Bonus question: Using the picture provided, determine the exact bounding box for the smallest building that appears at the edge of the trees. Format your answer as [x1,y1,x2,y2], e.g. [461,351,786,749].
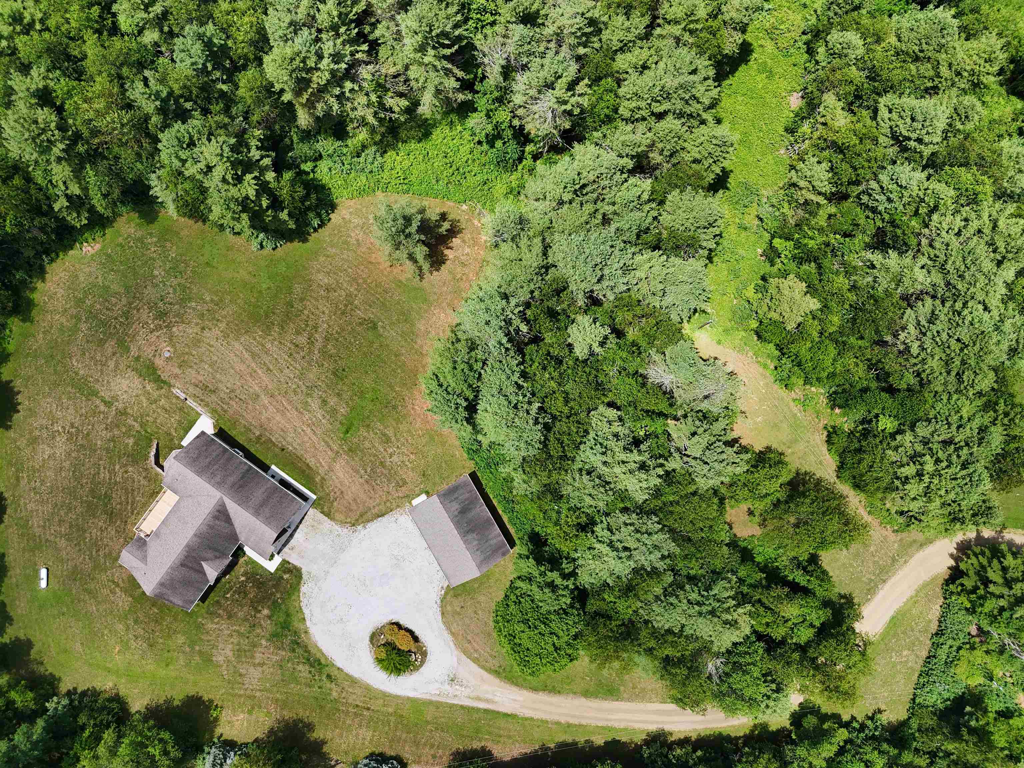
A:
[407,474,512,588]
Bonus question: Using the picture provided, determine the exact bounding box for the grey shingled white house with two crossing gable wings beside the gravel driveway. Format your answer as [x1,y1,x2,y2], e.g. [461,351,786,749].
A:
[118,428,306,613]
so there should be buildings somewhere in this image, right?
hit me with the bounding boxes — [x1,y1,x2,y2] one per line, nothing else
[407,474,512,588]
[118,428,306,613]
